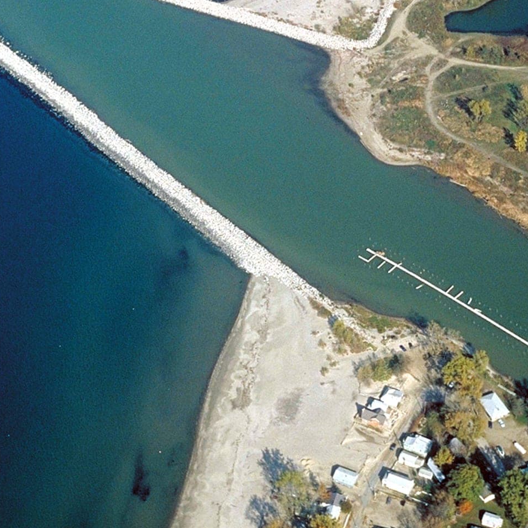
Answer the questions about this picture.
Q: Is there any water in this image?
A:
Yes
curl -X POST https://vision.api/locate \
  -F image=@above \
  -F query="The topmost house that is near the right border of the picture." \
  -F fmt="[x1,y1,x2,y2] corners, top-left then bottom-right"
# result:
[480,392,509,425]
